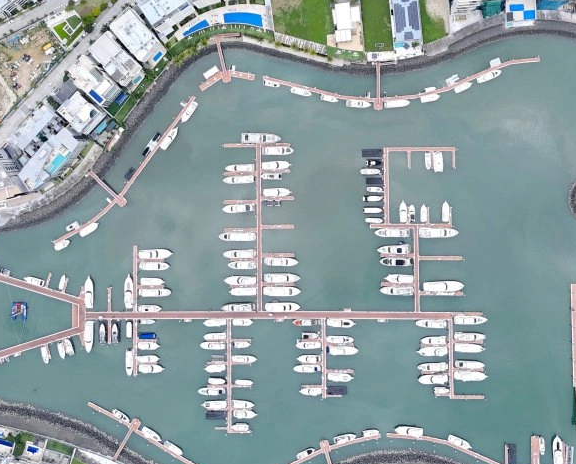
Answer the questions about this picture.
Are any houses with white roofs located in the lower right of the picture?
No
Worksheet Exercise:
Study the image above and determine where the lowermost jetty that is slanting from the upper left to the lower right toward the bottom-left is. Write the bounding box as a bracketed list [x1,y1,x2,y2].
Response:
[87,401,196,464]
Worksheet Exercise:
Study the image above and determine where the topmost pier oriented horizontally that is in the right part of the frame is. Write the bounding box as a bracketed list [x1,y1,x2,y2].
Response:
[263,57,540,109]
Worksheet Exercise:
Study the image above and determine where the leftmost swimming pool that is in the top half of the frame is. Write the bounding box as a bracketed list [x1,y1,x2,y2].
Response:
[51,154,68,173]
